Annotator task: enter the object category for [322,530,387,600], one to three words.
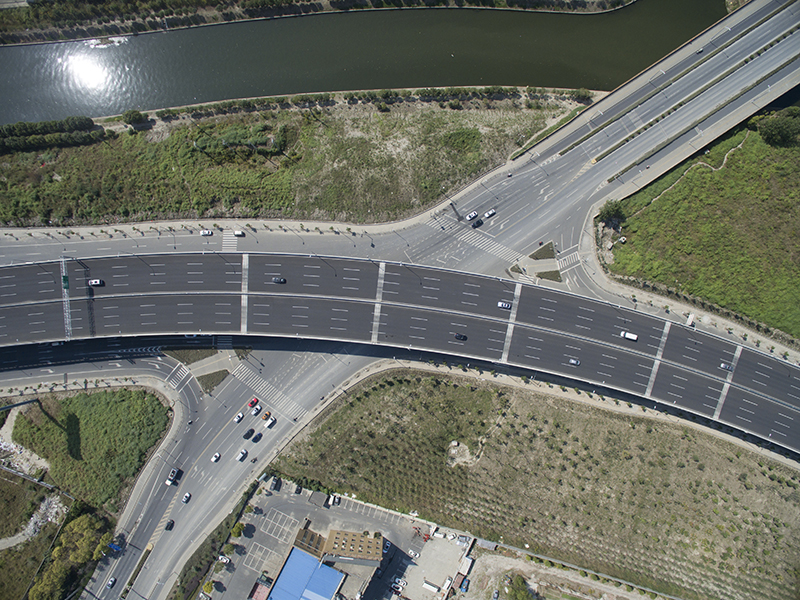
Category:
building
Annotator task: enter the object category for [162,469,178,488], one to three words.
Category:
vehicle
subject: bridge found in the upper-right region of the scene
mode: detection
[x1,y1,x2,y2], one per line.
[520,0,800,211]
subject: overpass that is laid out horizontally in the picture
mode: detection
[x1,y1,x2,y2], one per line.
[0,252,800,452]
